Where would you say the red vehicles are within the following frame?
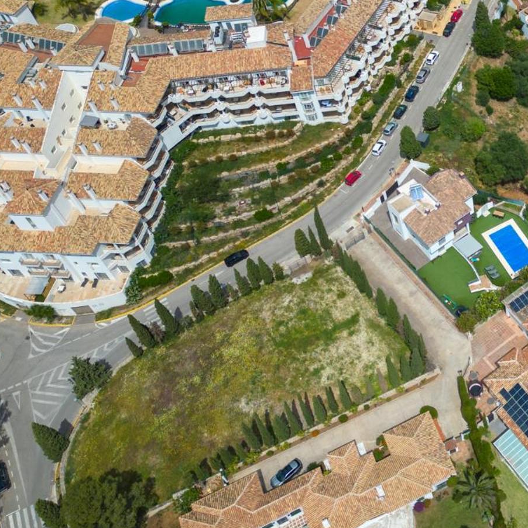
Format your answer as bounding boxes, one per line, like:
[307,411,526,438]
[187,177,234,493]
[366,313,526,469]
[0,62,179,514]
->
[343,170,363,185]
[448,8,465,22]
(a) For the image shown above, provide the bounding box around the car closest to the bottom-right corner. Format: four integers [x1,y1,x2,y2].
[269,457,304,488]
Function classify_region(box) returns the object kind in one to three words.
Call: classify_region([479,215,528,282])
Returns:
swimming pool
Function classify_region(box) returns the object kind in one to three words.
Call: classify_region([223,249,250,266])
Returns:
car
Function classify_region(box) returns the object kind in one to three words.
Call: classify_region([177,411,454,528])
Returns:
house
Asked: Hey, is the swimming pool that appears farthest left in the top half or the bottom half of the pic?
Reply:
top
